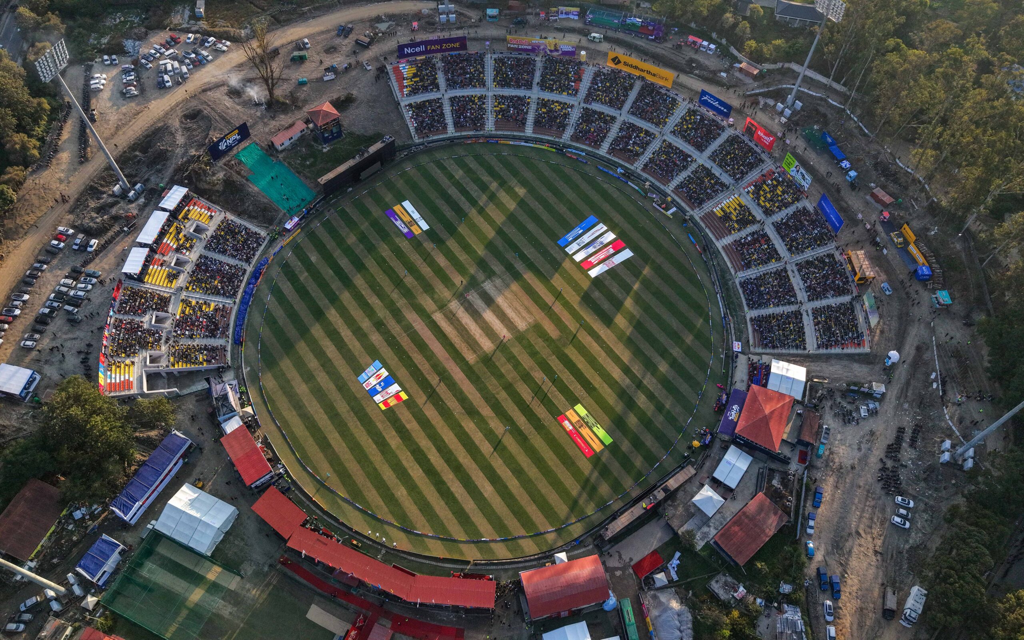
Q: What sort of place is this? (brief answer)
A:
sports ground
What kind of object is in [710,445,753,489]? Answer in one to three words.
tent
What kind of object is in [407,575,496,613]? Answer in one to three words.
building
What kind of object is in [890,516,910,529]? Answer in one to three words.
vehicle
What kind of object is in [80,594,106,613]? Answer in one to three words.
gazebo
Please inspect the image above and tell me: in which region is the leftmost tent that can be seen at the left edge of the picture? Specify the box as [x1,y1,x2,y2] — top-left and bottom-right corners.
[0,363,42,401]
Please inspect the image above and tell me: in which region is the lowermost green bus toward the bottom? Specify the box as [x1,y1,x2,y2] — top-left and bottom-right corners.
[617,593,639,640]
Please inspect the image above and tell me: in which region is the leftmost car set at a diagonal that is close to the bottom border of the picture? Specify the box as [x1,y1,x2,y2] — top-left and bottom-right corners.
[19,594,40,612]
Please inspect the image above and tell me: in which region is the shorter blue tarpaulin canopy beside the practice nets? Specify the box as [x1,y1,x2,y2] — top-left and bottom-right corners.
[76,536,127,584]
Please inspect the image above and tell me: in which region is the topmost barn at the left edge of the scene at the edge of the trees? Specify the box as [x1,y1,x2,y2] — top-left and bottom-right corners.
[0,474,64,561]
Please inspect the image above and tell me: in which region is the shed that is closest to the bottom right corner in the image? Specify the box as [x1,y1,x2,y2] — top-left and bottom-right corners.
[774,604,804,640]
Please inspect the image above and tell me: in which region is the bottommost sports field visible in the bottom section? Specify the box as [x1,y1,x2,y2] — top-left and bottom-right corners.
[113,591,191,636]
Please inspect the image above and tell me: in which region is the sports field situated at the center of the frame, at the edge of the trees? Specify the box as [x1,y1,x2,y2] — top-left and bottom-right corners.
[242,143,725,560]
